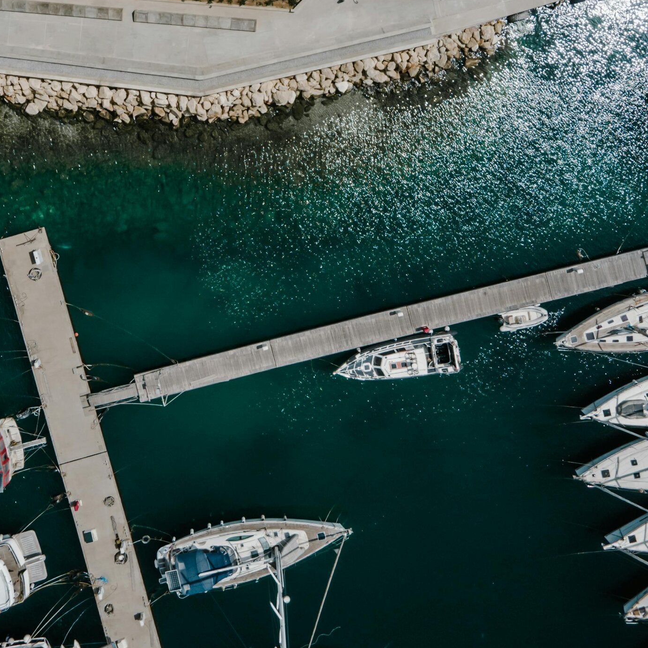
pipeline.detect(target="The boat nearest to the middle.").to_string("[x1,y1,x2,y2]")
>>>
[324,325,460,384]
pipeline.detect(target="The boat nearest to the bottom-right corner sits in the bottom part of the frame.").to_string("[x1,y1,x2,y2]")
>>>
[609,584,648,629]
